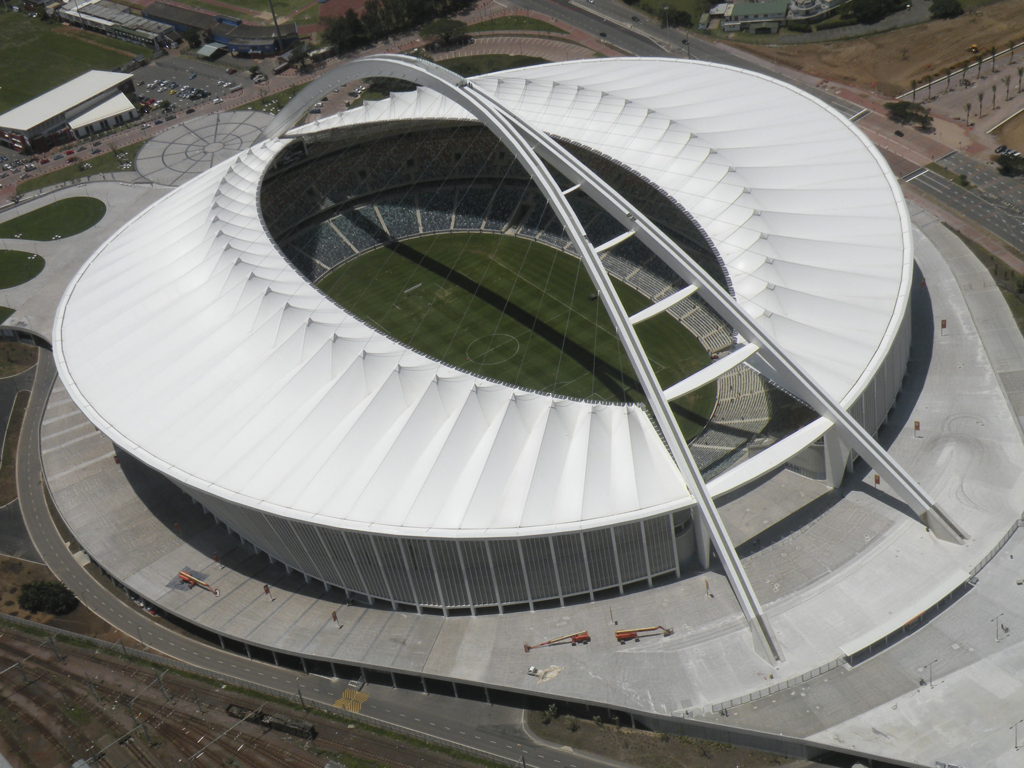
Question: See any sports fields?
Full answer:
Yes, a sports field can be made out from above.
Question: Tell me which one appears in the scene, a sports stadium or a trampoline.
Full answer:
The image shows a sports stadium.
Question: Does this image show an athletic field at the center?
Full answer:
Yes, there is an athletic field at the center.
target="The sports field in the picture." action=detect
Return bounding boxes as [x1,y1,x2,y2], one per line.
[317,233,720,461]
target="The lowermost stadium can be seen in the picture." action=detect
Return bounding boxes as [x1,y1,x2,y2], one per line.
[50,58,916,616]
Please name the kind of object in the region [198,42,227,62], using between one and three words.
shed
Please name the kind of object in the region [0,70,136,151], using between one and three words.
building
